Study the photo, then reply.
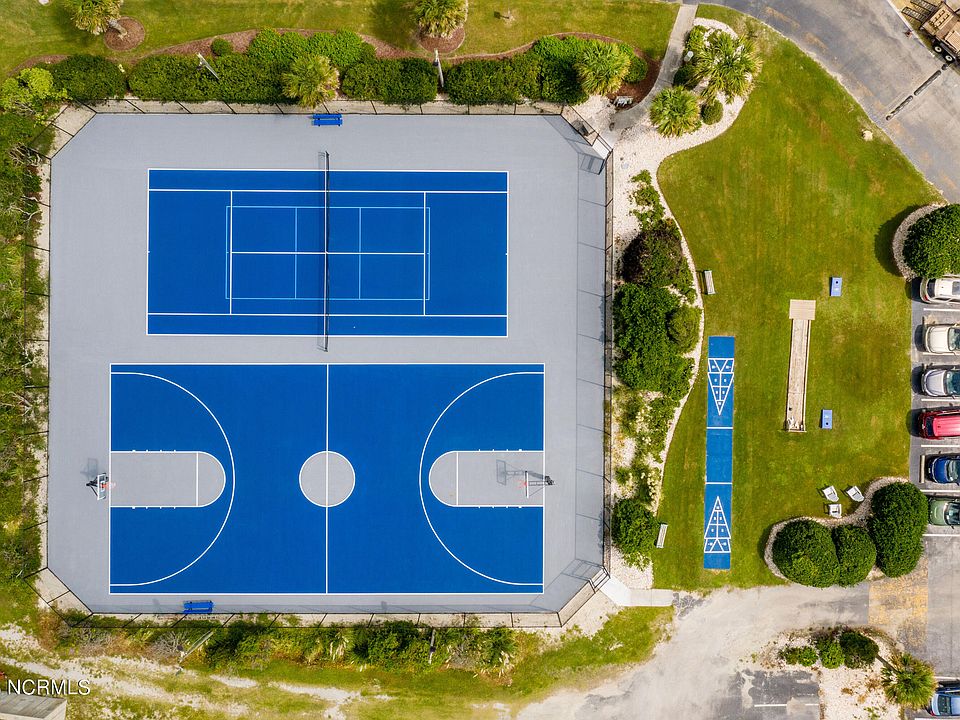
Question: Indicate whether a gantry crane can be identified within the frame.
No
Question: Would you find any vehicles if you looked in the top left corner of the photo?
No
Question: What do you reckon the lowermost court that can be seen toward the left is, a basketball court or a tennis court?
basketball court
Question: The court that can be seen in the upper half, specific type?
tennis court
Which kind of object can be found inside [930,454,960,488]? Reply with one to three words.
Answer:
car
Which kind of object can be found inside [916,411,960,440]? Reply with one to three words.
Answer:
car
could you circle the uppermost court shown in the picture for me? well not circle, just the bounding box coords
[147,168,508,337]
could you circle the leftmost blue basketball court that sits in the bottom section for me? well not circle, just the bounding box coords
[110,364,544,594]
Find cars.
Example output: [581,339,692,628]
[929,682,960,717]
[916,411,960,440]
[930,454,960,488]
[917,277,960,306]
[928,496,960,528]
[922,367,960,399]
[922,322,960,356]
